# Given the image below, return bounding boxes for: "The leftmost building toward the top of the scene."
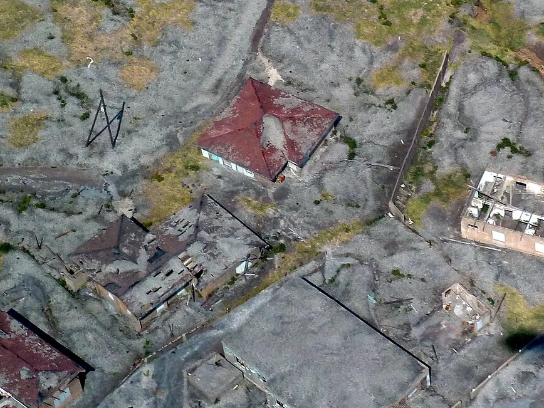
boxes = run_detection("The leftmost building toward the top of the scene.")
[194,76,343,196]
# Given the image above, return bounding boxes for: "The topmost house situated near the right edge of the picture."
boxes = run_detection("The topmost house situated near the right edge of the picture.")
[448,161,544,261]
